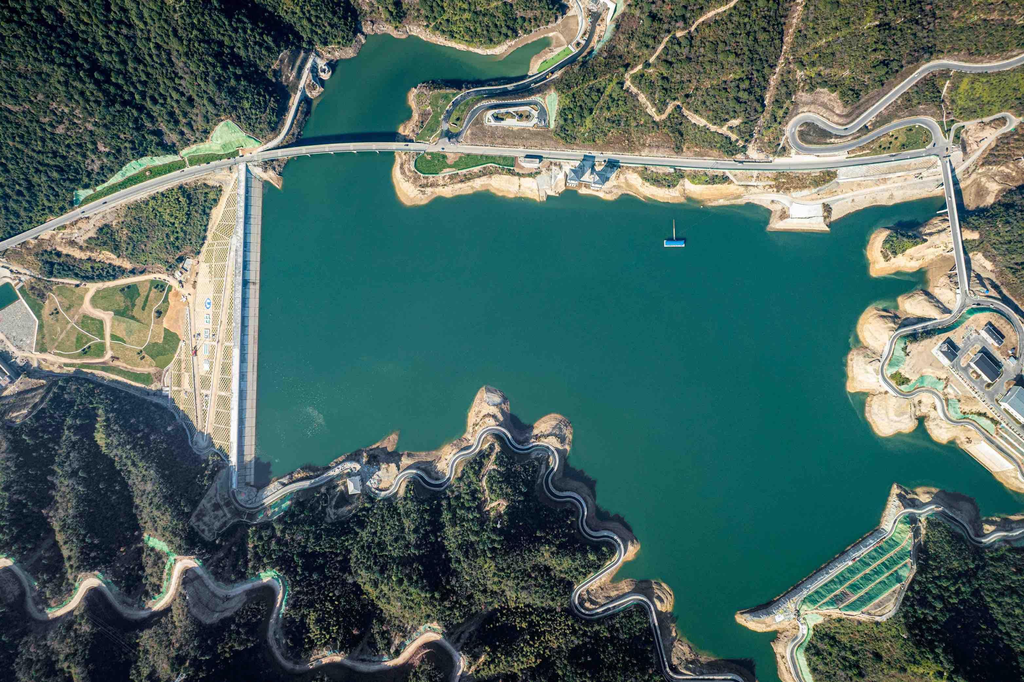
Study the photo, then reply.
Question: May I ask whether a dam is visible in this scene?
Yes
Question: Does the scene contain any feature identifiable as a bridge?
Yes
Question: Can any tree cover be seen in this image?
Yes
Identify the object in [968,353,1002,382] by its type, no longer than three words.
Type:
building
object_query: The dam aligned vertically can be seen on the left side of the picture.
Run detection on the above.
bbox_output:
[171,165,263,489]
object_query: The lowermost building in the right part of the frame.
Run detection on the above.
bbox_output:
[994,387,1024,431]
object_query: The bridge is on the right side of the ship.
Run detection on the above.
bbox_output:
[935,150,972,296]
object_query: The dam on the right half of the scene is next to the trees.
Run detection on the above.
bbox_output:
[743,515,912,618]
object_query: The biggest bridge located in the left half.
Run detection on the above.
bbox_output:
[238,141,427,166]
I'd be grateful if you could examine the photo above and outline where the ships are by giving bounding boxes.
[664,220,685,246]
